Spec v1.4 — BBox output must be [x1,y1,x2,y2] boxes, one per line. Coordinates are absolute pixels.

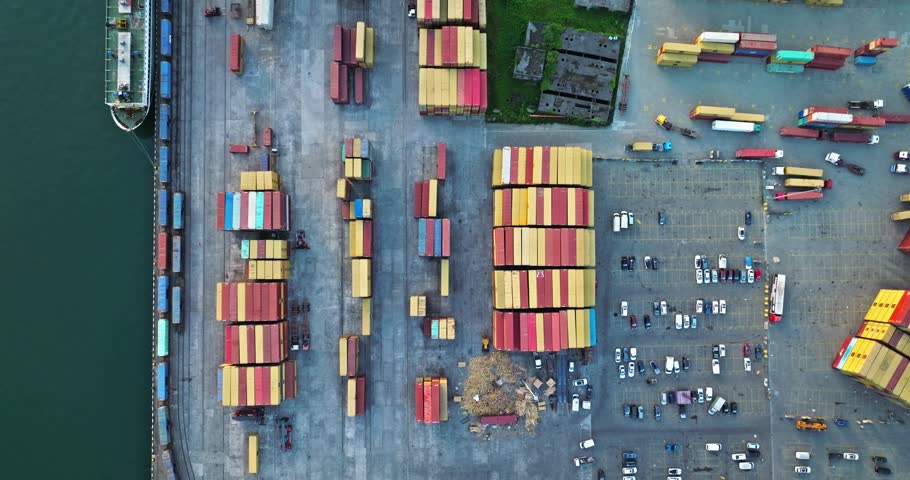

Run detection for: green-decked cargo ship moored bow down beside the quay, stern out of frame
[102,0,156,130]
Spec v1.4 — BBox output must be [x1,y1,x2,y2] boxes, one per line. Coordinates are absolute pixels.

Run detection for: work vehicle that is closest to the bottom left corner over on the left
[231,408,262,427]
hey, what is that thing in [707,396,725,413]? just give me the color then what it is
white vehicle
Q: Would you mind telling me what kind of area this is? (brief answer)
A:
port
